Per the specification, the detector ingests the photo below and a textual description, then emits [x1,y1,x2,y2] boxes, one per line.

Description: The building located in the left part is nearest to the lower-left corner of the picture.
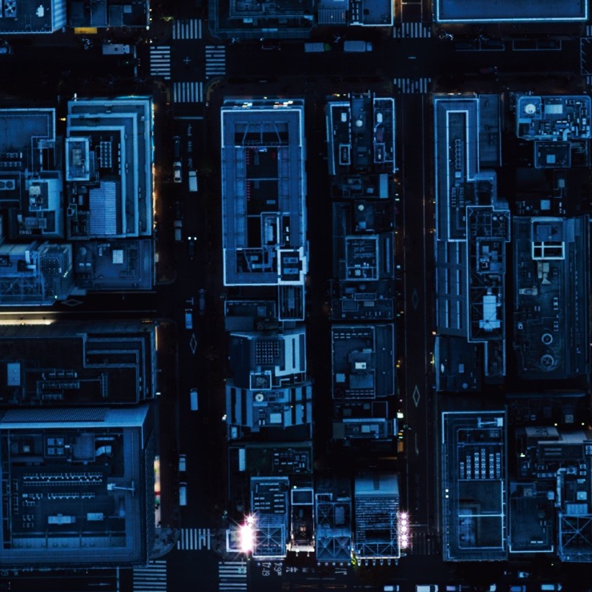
[0,405,155,569]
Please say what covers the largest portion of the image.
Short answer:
buildings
